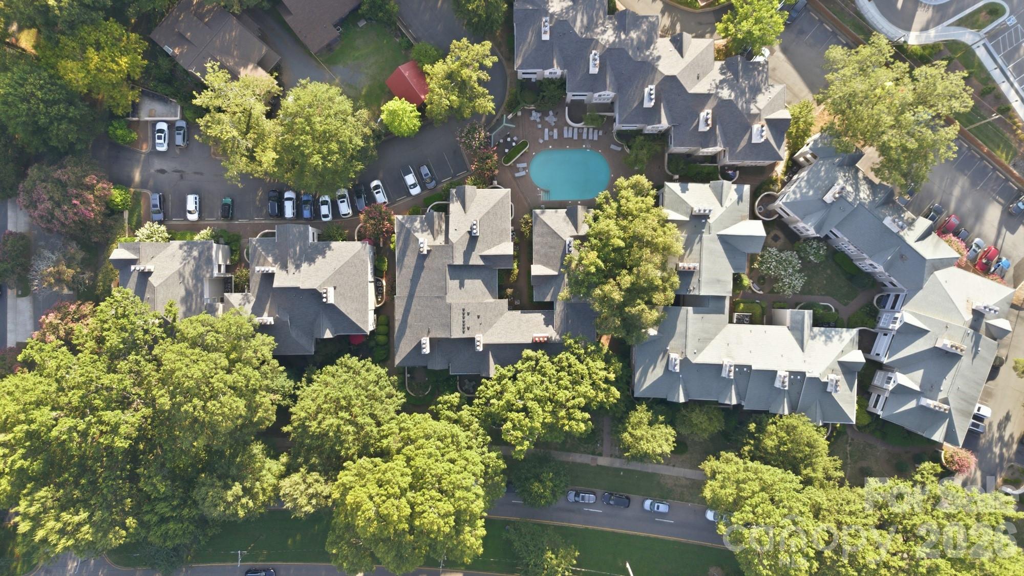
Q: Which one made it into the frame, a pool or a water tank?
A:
pool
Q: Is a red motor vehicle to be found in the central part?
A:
No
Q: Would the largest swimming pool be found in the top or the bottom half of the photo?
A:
top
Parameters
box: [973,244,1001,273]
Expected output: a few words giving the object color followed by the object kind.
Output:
red car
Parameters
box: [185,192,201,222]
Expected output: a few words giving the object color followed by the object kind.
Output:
white car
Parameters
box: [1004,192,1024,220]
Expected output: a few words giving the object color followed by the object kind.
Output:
gray car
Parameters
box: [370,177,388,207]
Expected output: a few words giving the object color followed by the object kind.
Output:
white car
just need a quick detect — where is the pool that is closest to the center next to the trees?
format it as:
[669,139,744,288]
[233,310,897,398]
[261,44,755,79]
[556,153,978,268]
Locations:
[529,148,610,200]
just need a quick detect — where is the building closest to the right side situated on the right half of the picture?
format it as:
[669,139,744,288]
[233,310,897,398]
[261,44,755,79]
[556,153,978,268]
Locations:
[768,136,1018,448]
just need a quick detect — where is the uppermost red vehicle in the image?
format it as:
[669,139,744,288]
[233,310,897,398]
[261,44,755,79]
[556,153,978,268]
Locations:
[936,212,961,240]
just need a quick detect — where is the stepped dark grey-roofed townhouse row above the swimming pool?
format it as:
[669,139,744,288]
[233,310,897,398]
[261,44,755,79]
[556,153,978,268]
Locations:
[514,0,794,167]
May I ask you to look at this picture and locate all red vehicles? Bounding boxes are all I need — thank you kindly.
[936,212,961,240]
[973,244,1001,273]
